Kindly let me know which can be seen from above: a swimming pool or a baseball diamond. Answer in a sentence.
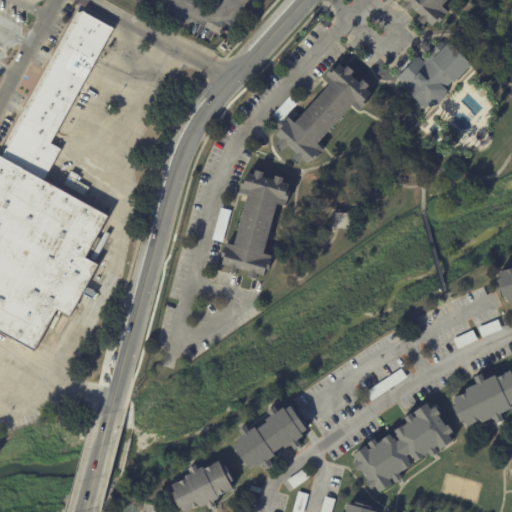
This aerial view contains a swimming pool.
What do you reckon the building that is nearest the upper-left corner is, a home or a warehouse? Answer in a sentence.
From above, the building that is nearest the upper-left corner can be identified as a warehouse.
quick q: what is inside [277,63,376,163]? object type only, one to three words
building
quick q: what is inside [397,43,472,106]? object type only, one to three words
building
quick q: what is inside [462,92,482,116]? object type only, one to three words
swimming pool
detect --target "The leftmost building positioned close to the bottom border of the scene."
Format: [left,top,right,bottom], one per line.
[172,462,233,511]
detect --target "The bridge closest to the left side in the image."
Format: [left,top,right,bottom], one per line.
[67,404,127,512]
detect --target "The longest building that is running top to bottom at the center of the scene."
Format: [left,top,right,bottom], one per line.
[222,172,291,278]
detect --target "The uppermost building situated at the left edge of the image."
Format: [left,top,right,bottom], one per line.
[2,11,114,180]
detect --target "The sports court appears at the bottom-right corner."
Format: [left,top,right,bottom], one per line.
[442,474,482,504]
